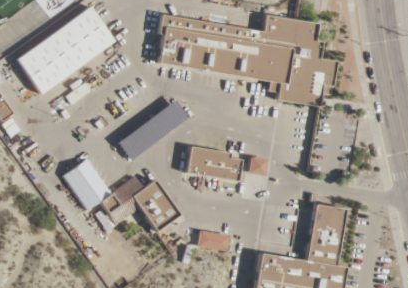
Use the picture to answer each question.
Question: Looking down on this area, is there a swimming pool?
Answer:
No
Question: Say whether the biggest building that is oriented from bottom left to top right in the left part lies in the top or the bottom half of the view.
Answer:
top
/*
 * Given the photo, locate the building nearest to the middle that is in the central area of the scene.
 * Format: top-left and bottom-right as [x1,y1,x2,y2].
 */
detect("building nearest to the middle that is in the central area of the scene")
[186,148,244,181]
